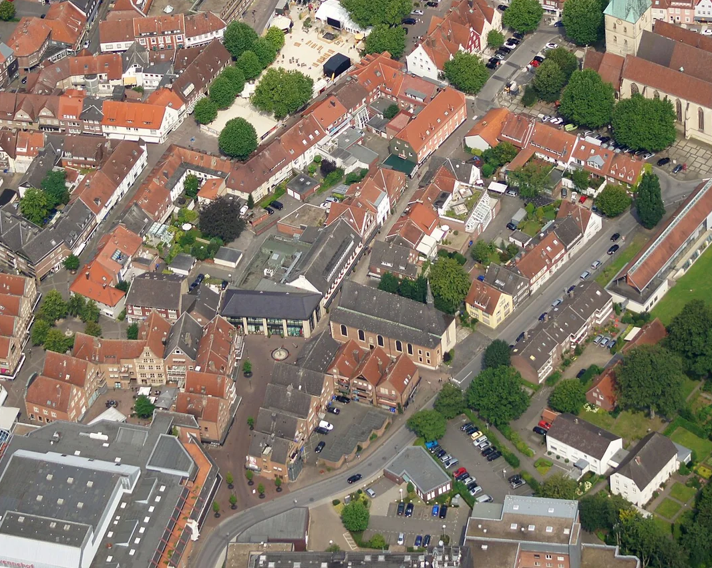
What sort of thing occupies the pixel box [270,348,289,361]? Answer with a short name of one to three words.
fountain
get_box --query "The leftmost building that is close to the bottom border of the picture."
[0,409,222,568]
